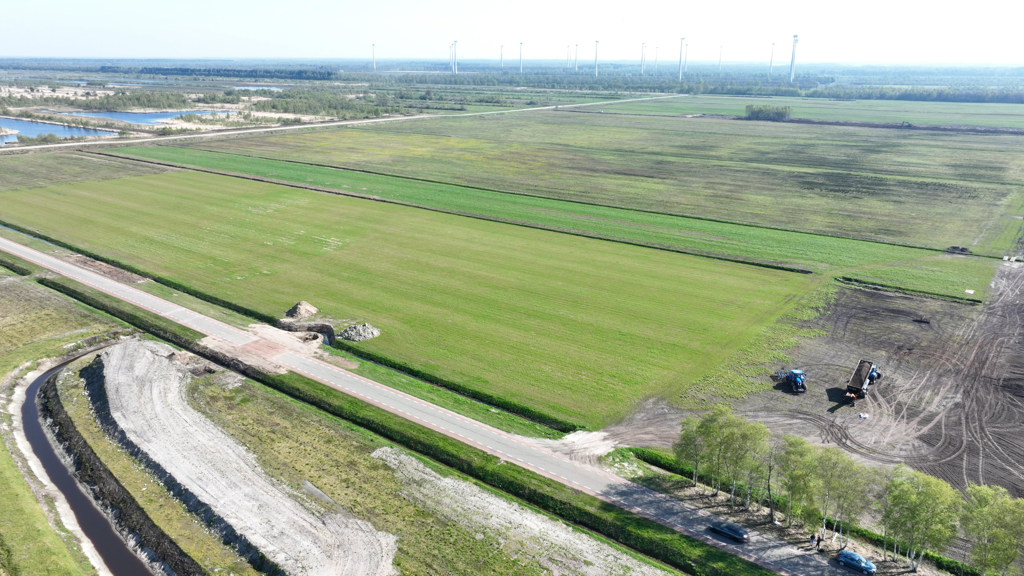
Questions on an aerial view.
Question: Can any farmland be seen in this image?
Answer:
Yes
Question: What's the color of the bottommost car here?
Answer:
blue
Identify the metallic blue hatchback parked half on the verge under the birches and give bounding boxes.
[835,546,877,574]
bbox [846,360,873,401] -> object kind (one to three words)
trailer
